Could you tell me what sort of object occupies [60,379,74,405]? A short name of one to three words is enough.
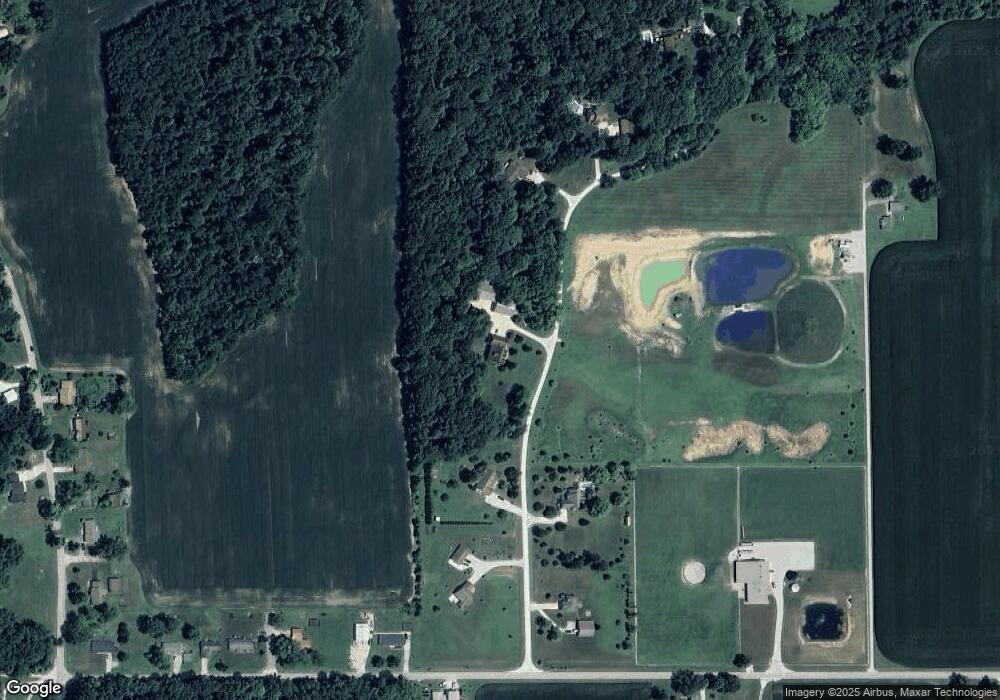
house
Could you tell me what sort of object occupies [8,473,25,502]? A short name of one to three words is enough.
house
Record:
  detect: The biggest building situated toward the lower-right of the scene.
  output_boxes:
[736,561,771,604]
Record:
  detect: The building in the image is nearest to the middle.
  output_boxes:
[486,333,507,365]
